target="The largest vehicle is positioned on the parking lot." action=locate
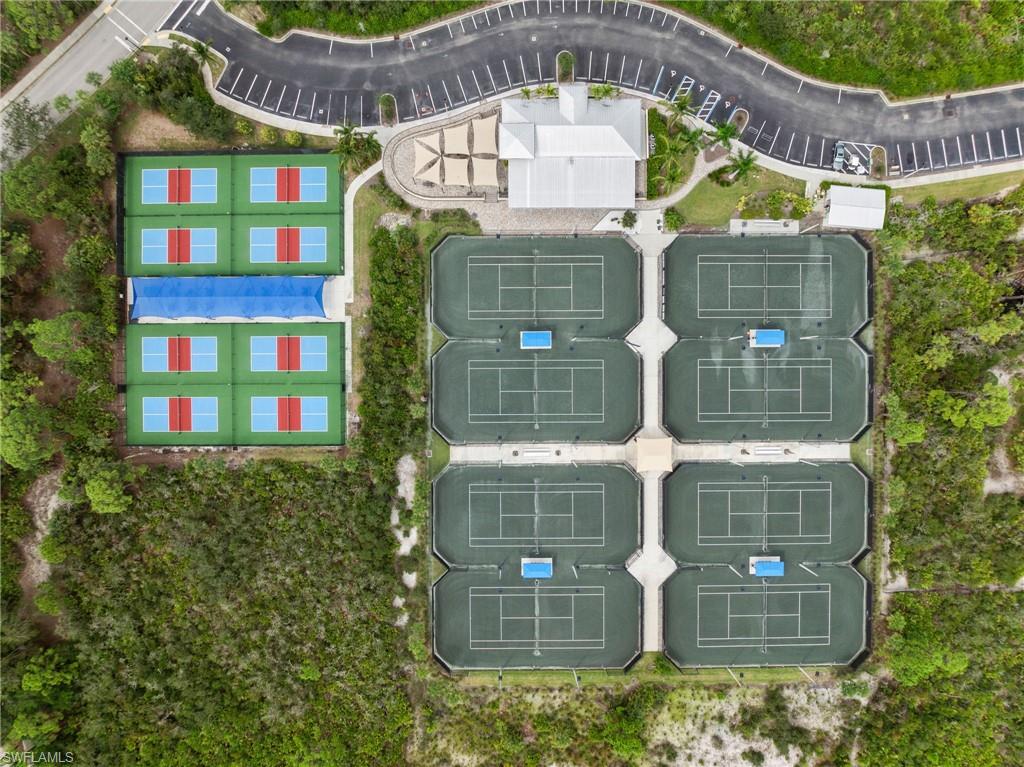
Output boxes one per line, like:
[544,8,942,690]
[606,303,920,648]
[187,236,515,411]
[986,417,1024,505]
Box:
[831,142,847,171]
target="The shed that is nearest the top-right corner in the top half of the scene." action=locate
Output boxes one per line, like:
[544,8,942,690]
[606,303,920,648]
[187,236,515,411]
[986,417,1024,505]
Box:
[823,185,886,231]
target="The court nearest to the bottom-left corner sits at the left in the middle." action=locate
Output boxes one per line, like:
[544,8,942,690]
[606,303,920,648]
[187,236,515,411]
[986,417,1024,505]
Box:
[127,384,234,445]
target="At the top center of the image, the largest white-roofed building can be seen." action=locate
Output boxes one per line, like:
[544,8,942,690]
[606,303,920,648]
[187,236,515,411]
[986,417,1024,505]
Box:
[499,84,641,209]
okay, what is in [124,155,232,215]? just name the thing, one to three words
sports court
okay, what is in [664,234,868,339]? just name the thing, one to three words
tennis court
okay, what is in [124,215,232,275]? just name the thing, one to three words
sports court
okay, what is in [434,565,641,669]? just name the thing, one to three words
tennis court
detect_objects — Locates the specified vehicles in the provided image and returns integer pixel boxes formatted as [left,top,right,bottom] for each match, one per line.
[831,142,847,171]
[849,154,863,170]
